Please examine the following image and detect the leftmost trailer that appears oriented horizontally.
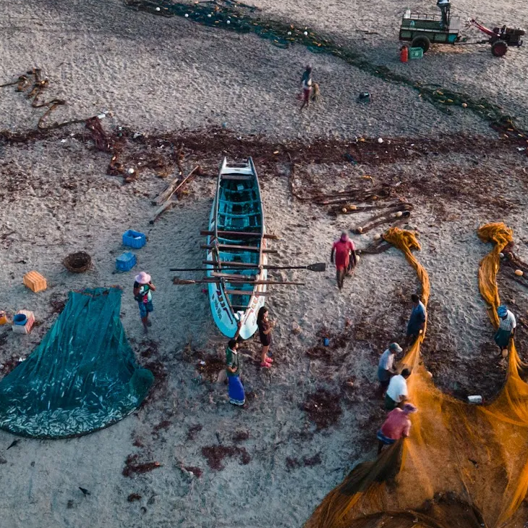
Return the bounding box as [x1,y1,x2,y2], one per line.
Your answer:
[399,12,491,54]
